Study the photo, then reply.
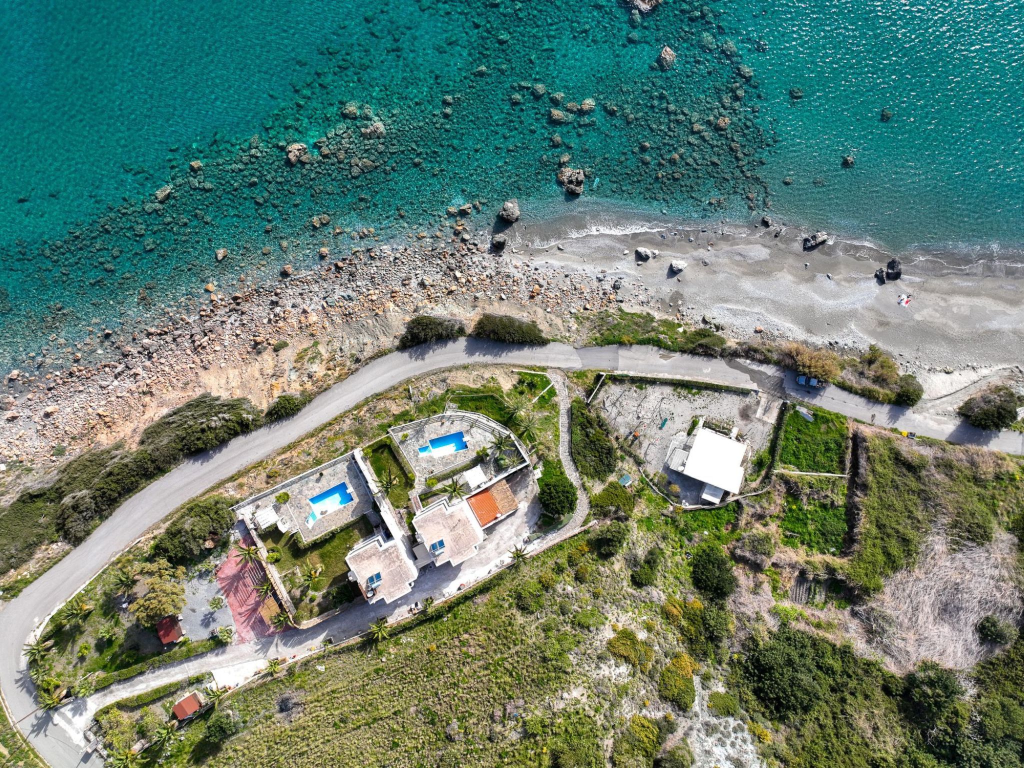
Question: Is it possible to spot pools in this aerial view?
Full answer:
Yes, looking at the shot, I can spot a pool.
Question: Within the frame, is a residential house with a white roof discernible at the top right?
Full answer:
No, I can find no residential house with a white roof at the top right.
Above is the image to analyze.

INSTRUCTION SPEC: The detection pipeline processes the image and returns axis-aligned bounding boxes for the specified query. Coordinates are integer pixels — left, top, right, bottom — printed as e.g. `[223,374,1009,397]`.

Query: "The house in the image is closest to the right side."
[679,426,748,504]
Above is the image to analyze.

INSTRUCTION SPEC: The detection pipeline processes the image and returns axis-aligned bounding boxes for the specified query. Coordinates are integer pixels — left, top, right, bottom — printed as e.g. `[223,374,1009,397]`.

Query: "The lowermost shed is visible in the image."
[173,691,201,720]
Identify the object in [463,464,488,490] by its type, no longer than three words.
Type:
gazebo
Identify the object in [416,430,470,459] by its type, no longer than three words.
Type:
swimming pool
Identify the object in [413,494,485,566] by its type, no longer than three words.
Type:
house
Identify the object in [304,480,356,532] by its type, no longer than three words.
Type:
swimming pool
